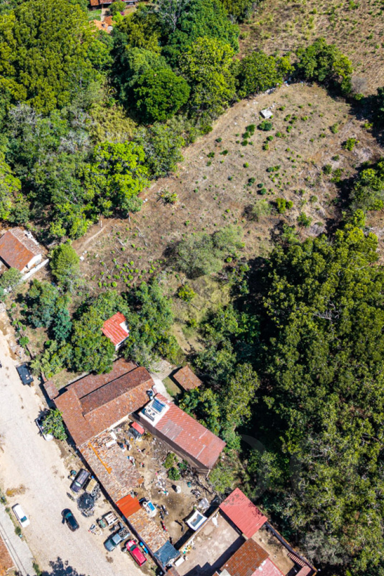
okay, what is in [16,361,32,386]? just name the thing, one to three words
vehicle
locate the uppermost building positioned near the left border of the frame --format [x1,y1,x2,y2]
[0,229,44,278]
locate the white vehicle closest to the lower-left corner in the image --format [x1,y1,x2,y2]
[12,502,30,530]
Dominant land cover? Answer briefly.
trees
